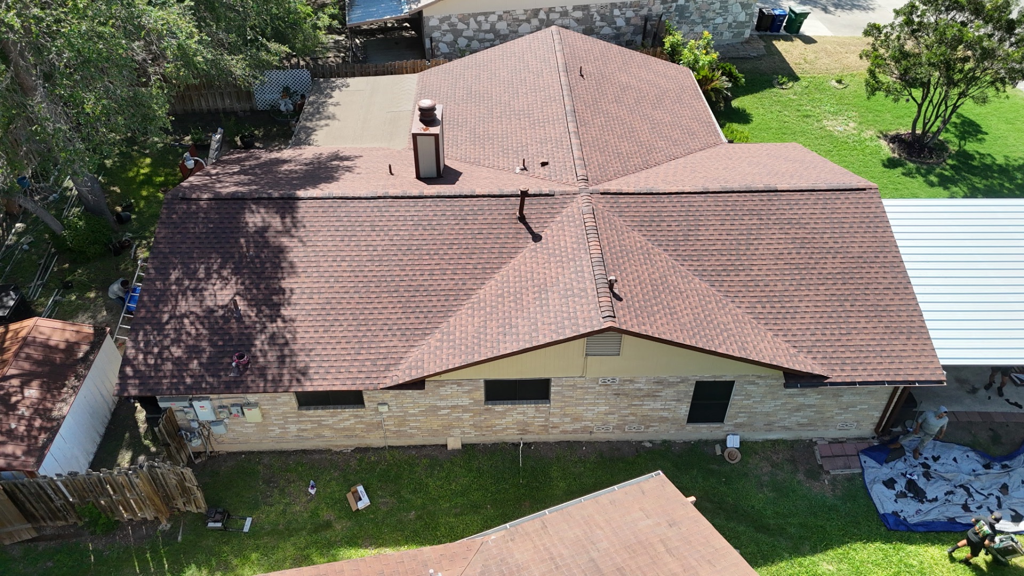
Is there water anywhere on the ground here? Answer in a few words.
No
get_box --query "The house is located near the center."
[118,26,952,452]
